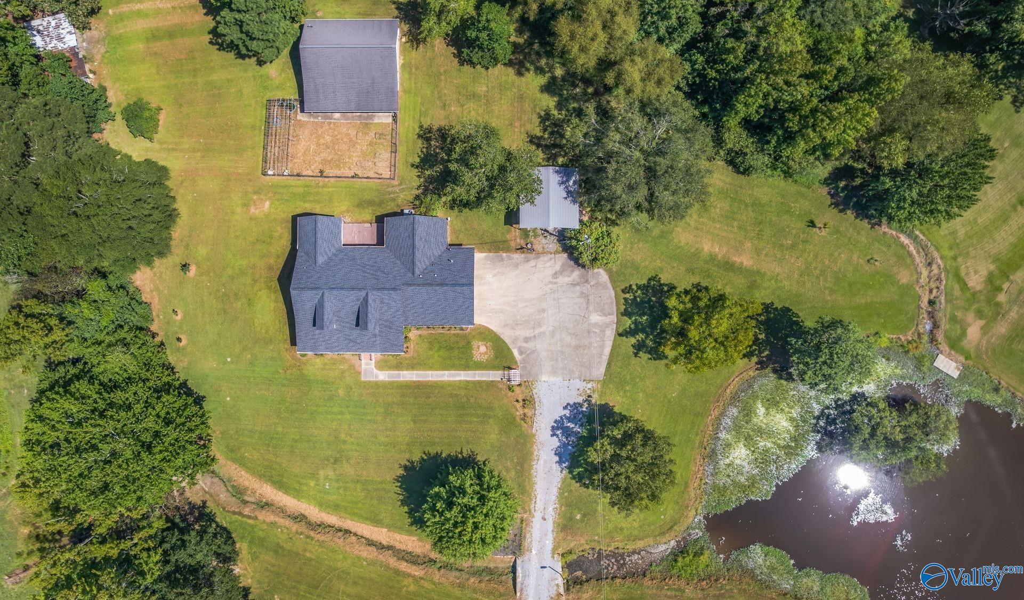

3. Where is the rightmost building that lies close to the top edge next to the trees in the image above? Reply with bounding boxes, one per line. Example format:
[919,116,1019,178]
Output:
[299,17,400,117]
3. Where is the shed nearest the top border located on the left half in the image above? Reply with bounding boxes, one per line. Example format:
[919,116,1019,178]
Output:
[24,15,91,62]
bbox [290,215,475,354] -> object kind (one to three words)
house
